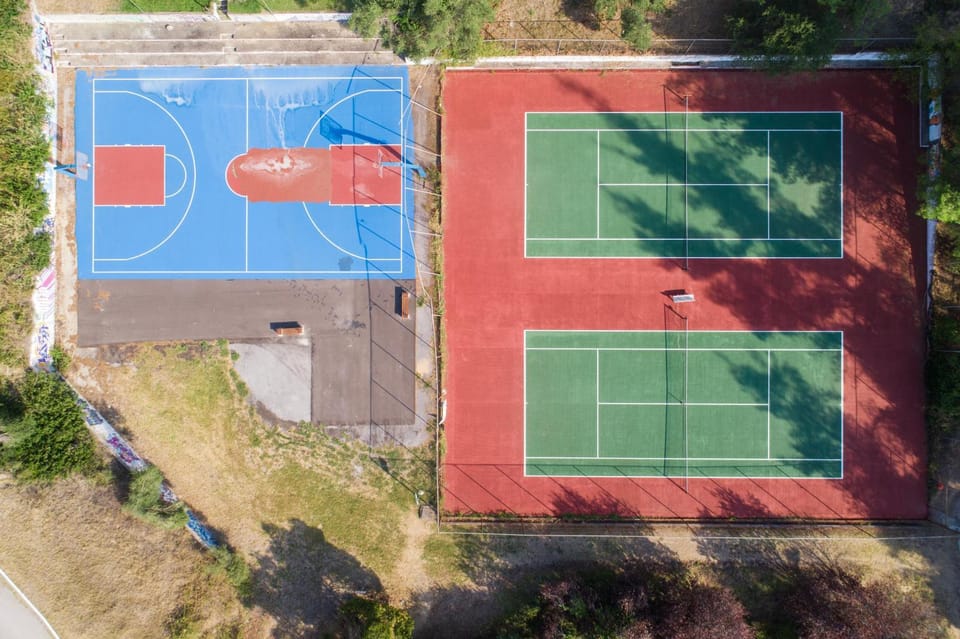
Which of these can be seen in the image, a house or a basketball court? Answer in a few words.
basketball court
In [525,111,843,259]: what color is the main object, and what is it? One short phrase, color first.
green tennis court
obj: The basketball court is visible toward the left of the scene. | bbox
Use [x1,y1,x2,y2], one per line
[75,67,415,280]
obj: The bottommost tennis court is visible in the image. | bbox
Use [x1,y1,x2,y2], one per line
[524,331,843,478]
